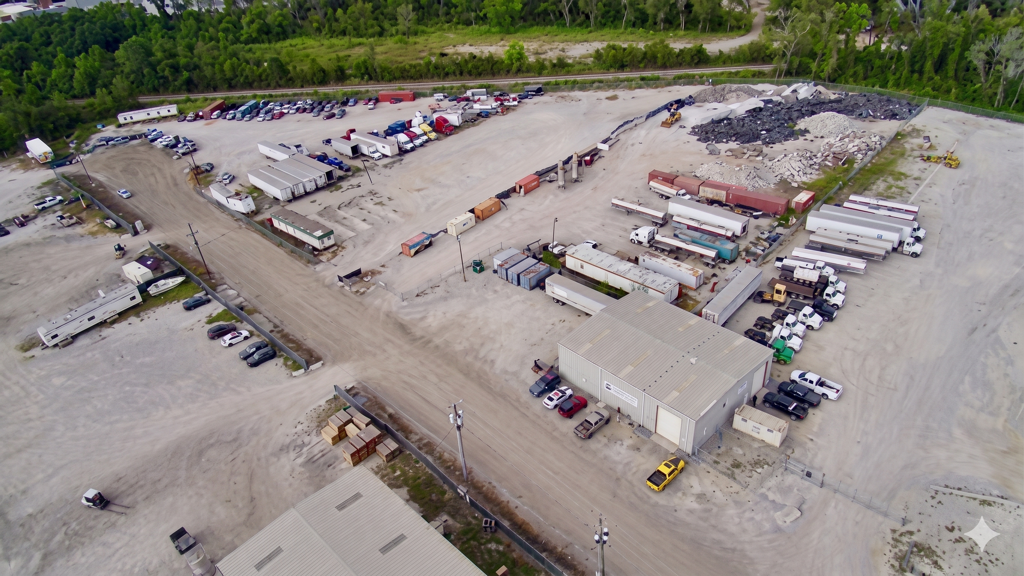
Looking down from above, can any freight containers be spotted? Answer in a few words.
Yes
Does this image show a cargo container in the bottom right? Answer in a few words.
Yes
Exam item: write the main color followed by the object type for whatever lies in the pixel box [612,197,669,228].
white trailer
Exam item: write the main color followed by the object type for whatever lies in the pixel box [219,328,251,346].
white car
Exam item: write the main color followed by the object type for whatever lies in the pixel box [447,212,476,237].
white shipping container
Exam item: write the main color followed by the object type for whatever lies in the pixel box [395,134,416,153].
white vehicle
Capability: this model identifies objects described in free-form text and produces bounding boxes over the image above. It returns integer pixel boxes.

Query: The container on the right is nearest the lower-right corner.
[731,402,788,447]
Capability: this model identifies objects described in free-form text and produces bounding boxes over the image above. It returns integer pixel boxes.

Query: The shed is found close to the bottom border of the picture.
[215,465,492,576]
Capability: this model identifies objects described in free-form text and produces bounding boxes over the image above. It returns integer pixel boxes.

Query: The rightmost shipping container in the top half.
[788,190,815,215]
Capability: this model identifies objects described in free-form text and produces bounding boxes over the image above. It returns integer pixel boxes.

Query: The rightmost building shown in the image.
[555,290,776,455]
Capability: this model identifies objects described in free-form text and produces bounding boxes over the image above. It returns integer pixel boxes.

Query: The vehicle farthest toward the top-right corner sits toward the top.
[926,152,966,168]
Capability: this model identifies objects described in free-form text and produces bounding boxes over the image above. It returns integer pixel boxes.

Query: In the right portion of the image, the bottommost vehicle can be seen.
[644,453,687,490]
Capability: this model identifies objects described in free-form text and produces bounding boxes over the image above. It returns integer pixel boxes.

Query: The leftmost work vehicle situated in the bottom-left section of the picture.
[76,483,123,514]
